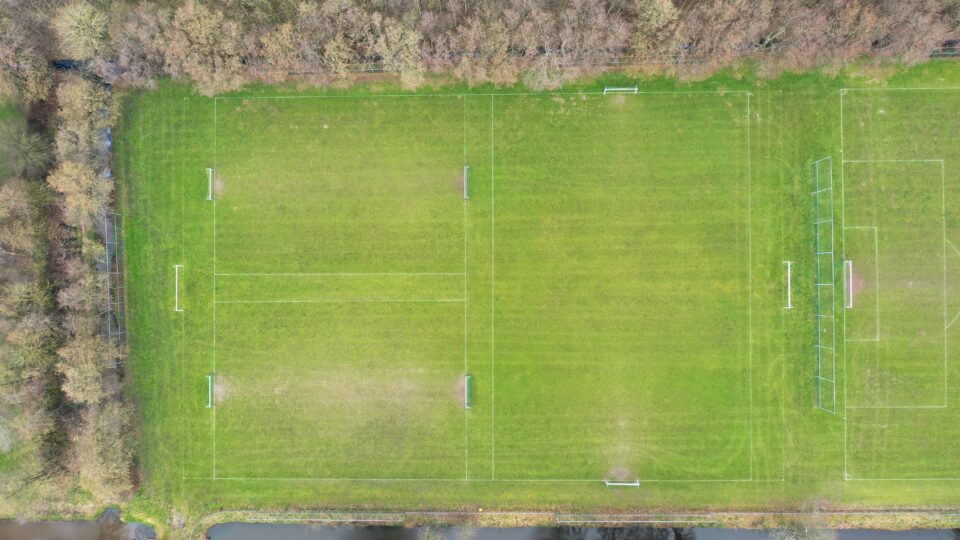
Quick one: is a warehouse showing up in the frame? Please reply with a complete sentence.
No, the photo shows no warehouse.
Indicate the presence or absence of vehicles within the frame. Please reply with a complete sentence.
No, the picture doesn't show any vehicle.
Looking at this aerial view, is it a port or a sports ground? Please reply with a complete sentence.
It's a sports ground.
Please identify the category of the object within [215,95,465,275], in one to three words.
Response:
soccer field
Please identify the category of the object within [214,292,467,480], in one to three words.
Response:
soccer field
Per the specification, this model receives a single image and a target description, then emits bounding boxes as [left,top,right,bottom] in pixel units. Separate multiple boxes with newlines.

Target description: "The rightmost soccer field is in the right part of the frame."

[840,87,960,481]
